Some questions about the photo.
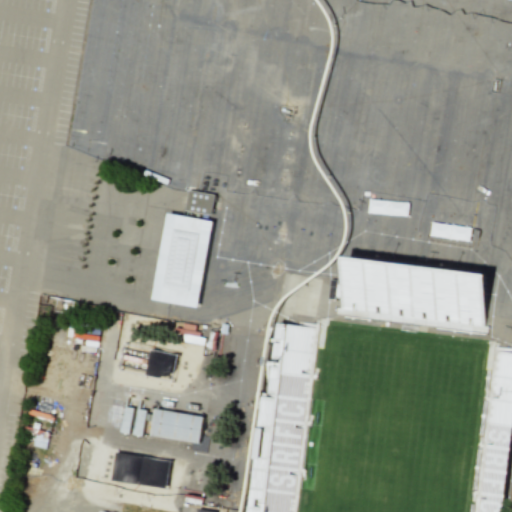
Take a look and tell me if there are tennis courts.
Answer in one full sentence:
No, the photo shows no tennis court.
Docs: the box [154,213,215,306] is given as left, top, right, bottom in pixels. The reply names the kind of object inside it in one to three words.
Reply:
building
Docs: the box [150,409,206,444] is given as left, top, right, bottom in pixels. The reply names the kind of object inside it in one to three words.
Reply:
building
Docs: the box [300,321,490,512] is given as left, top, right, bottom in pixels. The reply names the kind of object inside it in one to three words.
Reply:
soccer field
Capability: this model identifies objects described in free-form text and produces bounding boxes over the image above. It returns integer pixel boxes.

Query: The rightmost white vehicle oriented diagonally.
[477,184,493,198]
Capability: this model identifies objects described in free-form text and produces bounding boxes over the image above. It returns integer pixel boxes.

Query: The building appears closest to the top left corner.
[188,190,218,212]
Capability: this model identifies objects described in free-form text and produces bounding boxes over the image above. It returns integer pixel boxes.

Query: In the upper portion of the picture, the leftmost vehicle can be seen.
[146,169,174,186]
